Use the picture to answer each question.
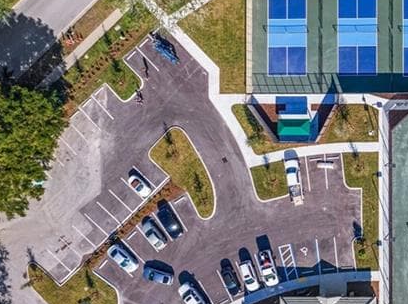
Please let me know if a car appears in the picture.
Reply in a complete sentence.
Yes, the photo shows a car.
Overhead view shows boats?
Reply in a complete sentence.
No, there's no boat here.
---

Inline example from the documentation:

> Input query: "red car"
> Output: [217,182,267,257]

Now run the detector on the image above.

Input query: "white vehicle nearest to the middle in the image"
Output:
[127,173,153,199]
